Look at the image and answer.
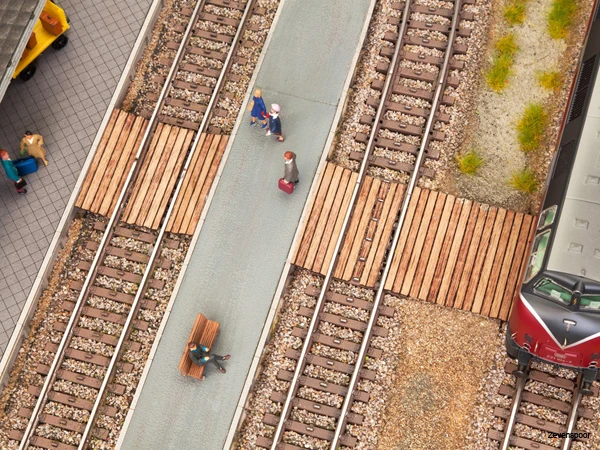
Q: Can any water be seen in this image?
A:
No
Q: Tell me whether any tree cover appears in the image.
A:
No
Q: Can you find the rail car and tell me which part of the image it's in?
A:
right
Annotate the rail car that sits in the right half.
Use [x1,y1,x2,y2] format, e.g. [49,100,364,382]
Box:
[506,0,600,396]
